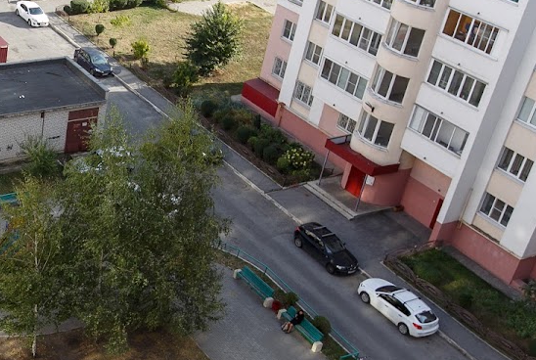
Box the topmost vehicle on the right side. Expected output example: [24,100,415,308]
[290,220,362,281]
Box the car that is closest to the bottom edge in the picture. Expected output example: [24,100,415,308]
[356,282,443,344]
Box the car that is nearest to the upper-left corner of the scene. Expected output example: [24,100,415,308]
[11,2,52,29]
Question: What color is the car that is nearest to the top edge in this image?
white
